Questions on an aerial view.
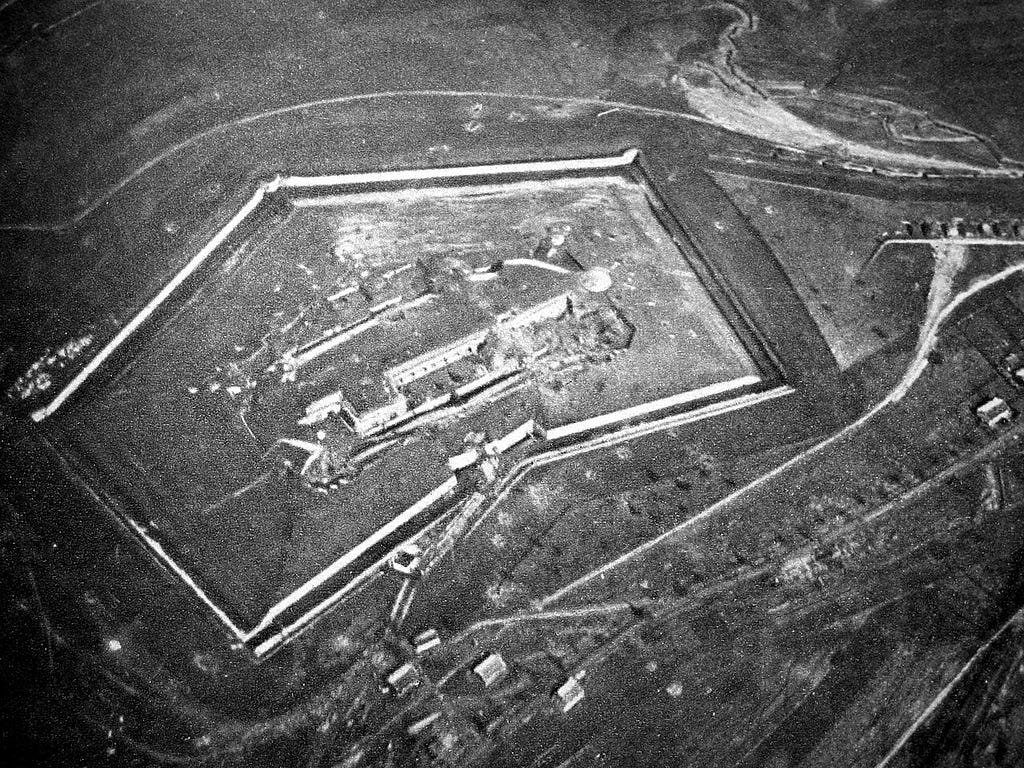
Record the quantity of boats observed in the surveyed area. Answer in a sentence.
There are no boats in the image.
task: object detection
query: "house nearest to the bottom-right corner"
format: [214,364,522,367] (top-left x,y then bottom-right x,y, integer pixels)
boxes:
[976,395,1013,427]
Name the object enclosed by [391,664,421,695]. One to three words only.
house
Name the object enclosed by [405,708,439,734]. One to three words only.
shed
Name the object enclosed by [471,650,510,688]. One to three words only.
house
